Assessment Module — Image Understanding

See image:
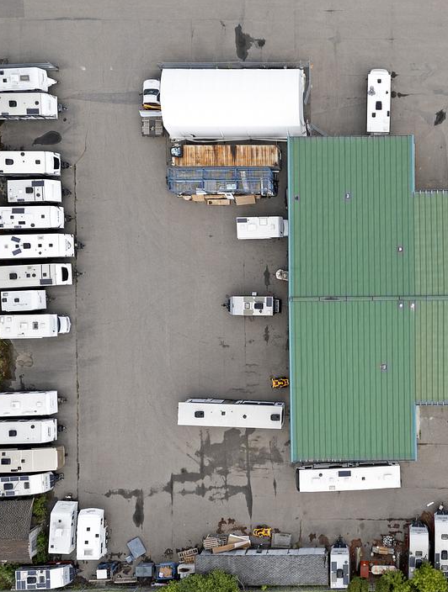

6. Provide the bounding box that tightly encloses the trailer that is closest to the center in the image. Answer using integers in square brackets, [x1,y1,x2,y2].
[223,291,282,315]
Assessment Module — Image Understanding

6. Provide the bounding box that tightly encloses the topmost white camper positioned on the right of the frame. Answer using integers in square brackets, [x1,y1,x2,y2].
[366,70,390,135]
